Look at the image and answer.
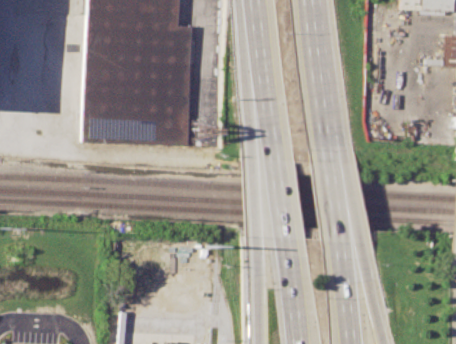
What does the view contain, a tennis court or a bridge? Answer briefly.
bridge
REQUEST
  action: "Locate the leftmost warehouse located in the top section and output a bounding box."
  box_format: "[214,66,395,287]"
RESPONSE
[79,0,192,144]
